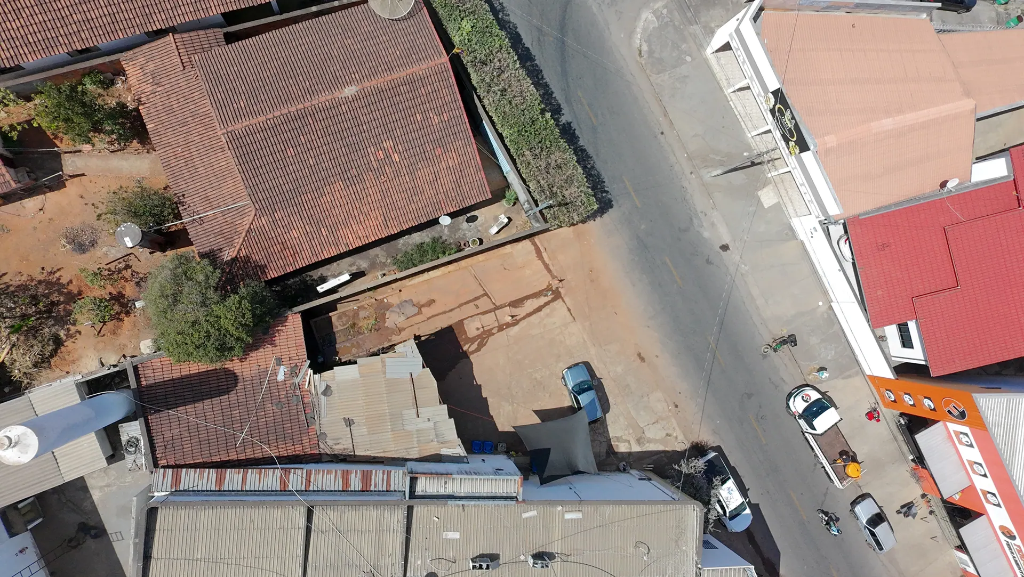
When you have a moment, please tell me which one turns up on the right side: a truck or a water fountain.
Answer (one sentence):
You can see a truck on the right side.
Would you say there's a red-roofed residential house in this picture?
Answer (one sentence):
Yes, a red-roofed residential house can be made out from above.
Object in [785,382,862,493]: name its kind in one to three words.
truck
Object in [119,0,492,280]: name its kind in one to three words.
house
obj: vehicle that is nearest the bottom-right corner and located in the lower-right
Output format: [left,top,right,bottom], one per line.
[846,491,896,553]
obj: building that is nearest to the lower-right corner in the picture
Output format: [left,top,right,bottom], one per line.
[867,369,1024,577]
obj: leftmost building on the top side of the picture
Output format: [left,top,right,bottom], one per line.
[0,157,41,203]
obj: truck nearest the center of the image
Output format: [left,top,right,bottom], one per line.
[561,361,606,429]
